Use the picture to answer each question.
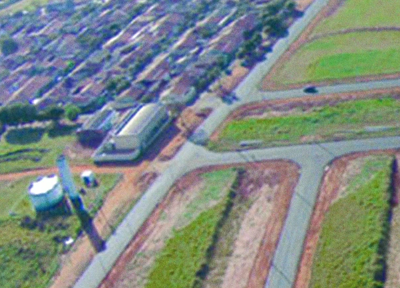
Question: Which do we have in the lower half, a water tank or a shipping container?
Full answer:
Visible in the lower half is a water tank.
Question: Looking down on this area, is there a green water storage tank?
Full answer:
No, the scene contains no green water storage tank.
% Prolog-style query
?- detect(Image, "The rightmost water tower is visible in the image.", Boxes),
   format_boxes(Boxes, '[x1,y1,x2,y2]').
[57,147,87,212]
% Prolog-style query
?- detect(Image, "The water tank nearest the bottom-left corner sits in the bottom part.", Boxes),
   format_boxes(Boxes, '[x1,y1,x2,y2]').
[26,174,66,209]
